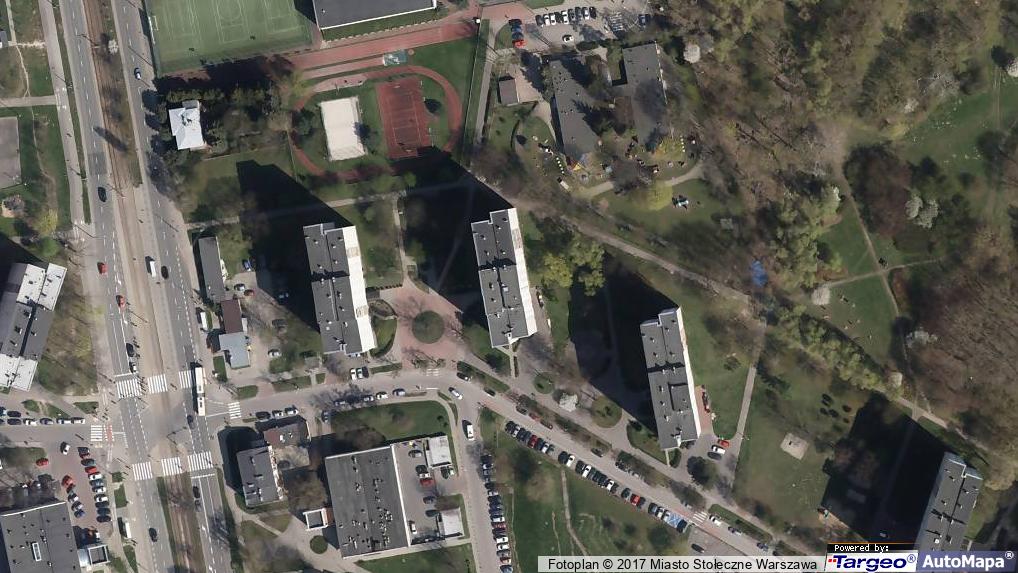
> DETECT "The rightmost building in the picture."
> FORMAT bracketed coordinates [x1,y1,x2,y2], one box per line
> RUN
[908,453,982,573]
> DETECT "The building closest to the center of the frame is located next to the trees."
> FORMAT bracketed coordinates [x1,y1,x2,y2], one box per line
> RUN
[471,208,536,348]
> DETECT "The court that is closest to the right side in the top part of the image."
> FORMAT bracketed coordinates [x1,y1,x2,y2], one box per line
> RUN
[377,78,432,161]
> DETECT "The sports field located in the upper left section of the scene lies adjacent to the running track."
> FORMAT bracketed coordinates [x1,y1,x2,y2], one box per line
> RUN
[147,0,314,84]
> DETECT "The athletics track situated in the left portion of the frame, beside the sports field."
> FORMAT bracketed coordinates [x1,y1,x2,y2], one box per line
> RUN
[262,20,480,177]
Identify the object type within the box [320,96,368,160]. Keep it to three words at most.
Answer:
sports court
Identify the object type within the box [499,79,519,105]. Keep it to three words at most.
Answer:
shed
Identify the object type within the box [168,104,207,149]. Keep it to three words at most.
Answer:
house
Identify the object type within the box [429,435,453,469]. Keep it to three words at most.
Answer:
building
